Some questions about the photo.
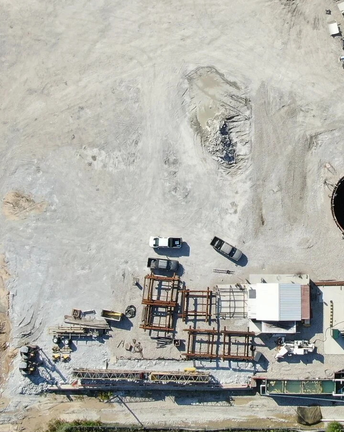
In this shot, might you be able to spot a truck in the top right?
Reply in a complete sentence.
No, the scene shows no truck in the top right.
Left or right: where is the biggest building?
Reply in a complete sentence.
It is on the right.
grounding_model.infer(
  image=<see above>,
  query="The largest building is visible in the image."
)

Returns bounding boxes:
[247,284,310,333]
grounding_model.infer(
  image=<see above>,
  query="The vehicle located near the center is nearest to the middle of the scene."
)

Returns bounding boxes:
[149,235,183,249]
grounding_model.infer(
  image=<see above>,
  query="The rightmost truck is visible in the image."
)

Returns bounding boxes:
[210,235,243,262]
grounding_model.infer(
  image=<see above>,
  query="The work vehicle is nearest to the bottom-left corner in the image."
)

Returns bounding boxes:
[14,362,41,376]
